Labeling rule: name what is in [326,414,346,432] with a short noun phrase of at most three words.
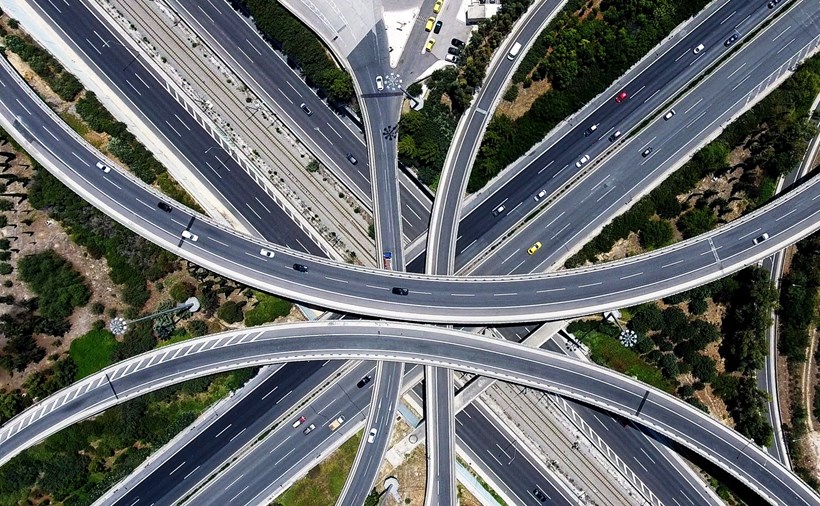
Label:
vehicle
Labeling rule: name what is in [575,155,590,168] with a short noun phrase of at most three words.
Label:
vehicle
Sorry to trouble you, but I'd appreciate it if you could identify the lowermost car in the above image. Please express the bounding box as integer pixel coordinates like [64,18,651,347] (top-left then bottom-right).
[533,488,547,502]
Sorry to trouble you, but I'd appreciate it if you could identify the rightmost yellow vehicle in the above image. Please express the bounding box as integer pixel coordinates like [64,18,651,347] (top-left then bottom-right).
[527,241,541,255]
